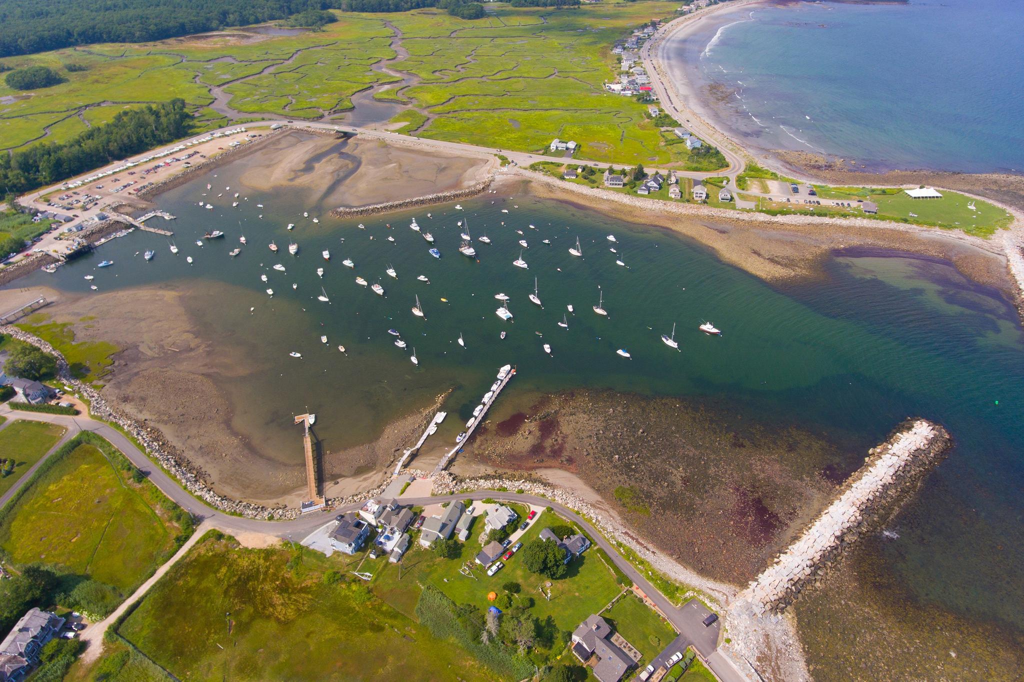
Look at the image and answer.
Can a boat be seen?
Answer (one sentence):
Yes, there is a boat in the image.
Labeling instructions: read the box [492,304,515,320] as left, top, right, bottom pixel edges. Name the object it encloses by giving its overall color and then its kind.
white boat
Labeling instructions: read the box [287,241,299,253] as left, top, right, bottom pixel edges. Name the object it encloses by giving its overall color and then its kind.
white boat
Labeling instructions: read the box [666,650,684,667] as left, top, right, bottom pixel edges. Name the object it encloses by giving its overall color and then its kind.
white vehicle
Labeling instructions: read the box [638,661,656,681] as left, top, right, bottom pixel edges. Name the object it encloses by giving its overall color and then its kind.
white vehicle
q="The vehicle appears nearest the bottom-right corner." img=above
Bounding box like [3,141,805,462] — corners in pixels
[703,610,719,625]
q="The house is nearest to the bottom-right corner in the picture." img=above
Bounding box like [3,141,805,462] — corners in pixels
[570,614,639,682]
